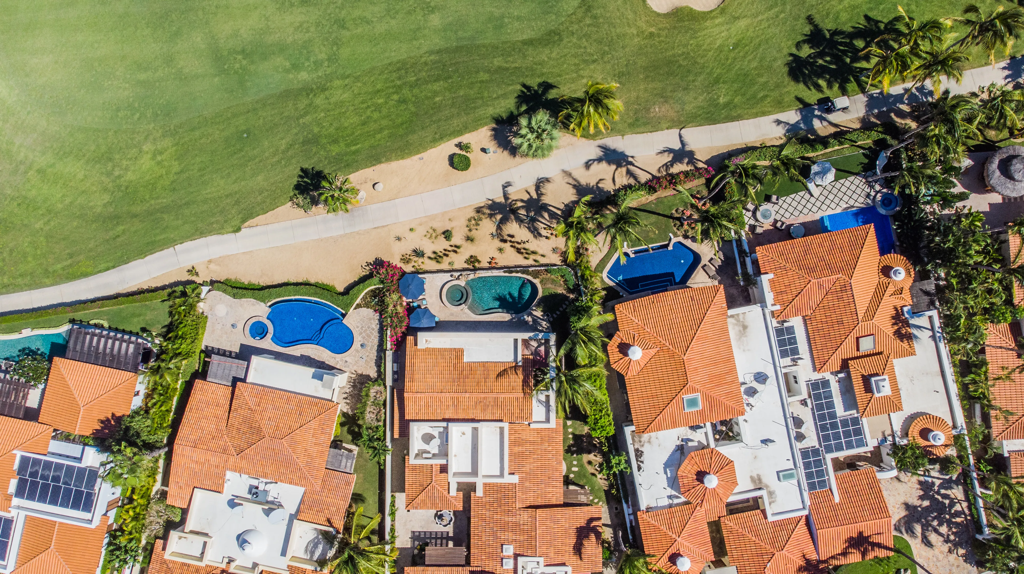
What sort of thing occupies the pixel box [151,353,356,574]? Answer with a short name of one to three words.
house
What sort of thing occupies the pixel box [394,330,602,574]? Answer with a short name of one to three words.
house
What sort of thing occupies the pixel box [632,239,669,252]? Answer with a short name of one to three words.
swimming pool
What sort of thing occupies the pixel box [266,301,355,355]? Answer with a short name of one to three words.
swimming pool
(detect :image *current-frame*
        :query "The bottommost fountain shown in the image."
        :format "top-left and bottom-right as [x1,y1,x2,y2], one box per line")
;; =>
[437,511,454,528]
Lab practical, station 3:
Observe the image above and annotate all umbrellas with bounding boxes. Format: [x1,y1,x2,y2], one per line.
[398,274,425,300]
[409,306,436,332]
[810,161,836,186]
